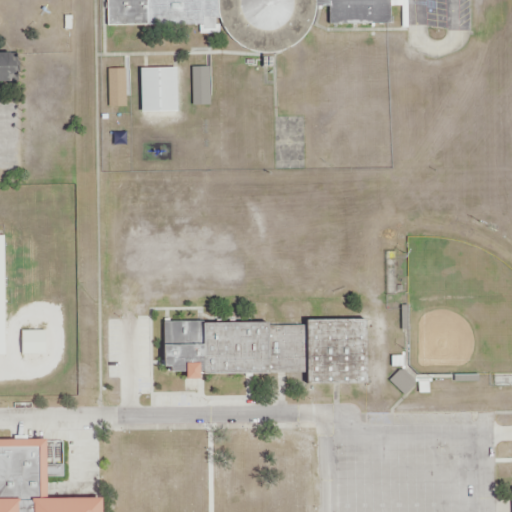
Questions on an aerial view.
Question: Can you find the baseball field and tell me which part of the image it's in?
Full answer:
The baseball field is located in the right region of the scene.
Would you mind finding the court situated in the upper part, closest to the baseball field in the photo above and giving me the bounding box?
[275,116,304,168]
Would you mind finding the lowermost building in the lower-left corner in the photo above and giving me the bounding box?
[0,440,104,512]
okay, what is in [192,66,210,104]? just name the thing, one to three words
building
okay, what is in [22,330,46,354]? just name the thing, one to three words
shed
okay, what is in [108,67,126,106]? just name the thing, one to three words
building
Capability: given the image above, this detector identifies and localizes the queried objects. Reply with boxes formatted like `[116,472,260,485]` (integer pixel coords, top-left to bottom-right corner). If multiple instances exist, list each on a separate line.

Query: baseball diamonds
[408,236,512,373]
